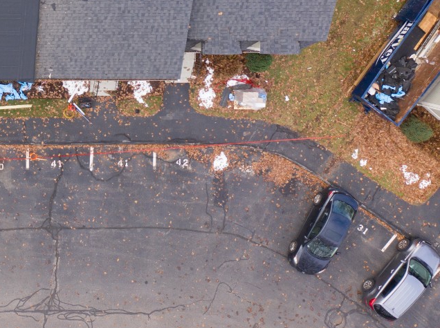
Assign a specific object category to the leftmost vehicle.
car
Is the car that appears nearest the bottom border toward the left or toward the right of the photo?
right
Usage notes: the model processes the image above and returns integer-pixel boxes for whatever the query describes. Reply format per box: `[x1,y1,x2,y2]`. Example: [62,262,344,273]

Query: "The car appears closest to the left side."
[286,183,356,275]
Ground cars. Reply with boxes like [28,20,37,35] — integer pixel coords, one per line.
[356,232,439,325]
[286,183,356,275]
